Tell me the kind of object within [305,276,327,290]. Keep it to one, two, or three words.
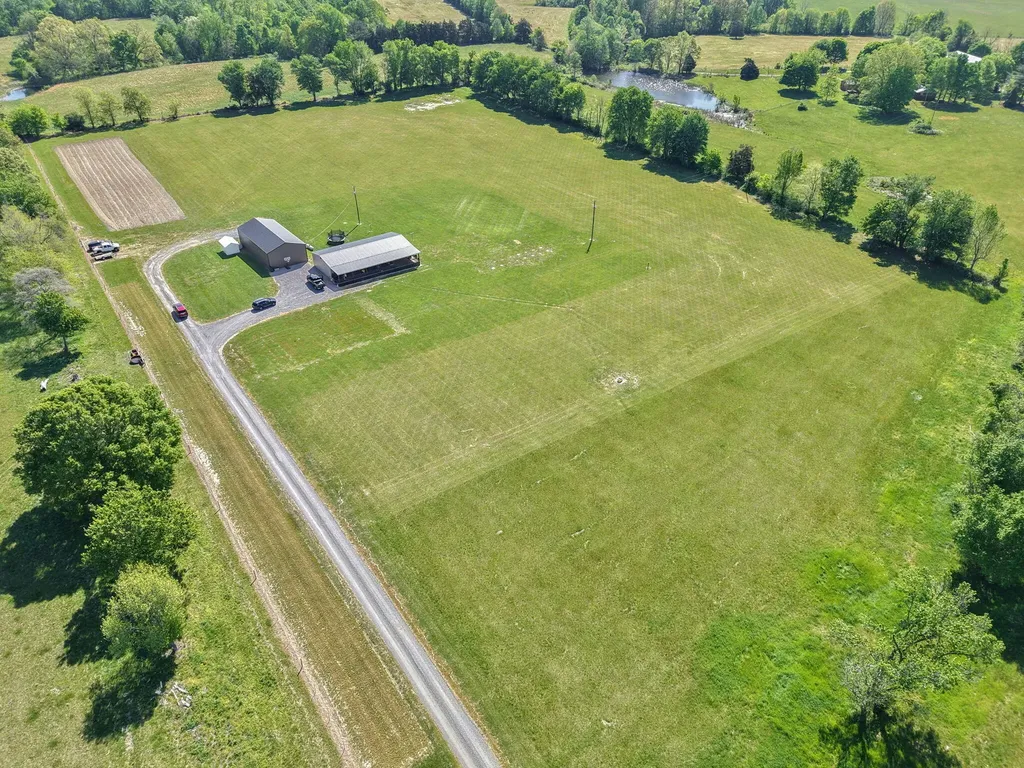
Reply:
vehicle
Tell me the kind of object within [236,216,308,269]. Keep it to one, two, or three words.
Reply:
building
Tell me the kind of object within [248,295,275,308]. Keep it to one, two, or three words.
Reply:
vehicle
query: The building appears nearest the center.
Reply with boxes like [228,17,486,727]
[315,231,421,285]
